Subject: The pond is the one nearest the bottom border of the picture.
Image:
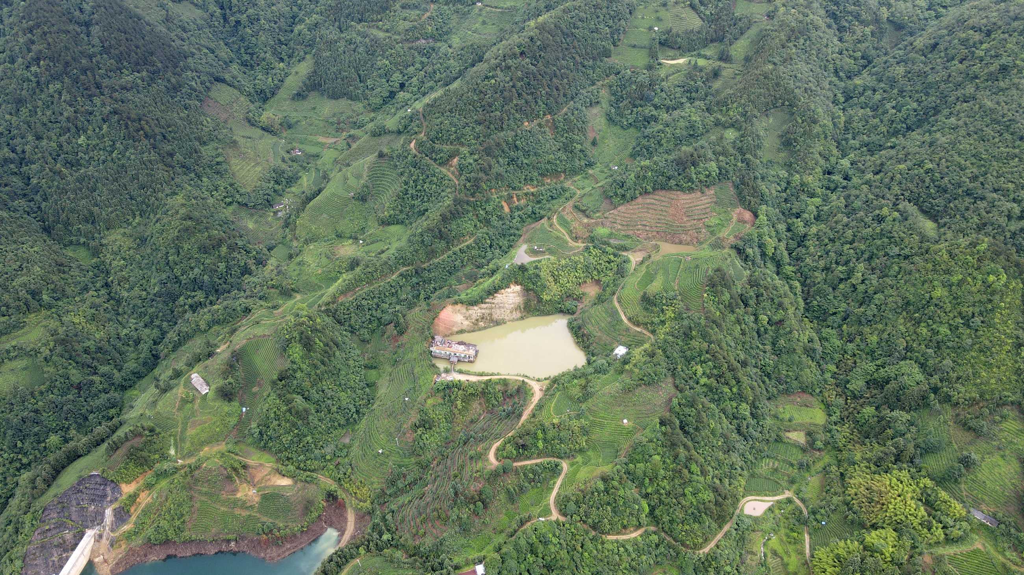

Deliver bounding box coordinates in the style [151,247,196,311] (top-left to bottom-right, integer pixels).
[87,528,339,575]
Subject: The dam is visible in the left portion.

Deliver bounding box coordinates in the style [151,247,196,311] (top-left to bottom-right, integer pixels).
[59,530,96,575]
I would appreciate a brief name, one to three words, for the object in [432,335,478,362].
house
